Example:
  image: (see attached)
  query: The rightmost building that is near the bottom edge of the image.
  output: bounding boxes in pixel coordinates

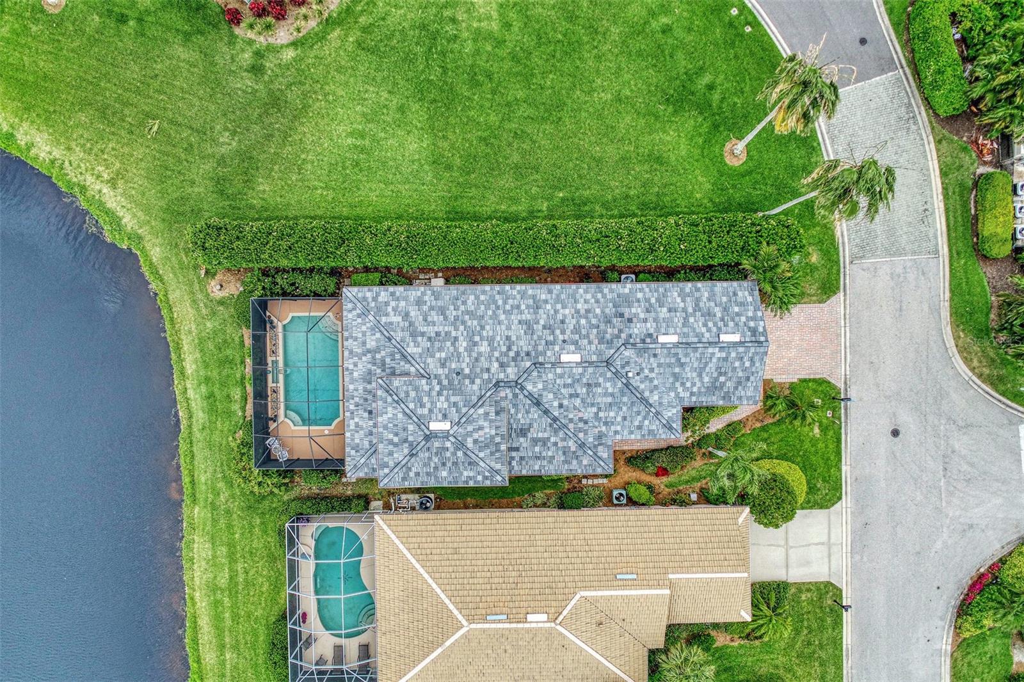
[372,505,753,682]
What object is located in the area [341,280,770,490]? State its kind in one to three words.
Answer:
house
